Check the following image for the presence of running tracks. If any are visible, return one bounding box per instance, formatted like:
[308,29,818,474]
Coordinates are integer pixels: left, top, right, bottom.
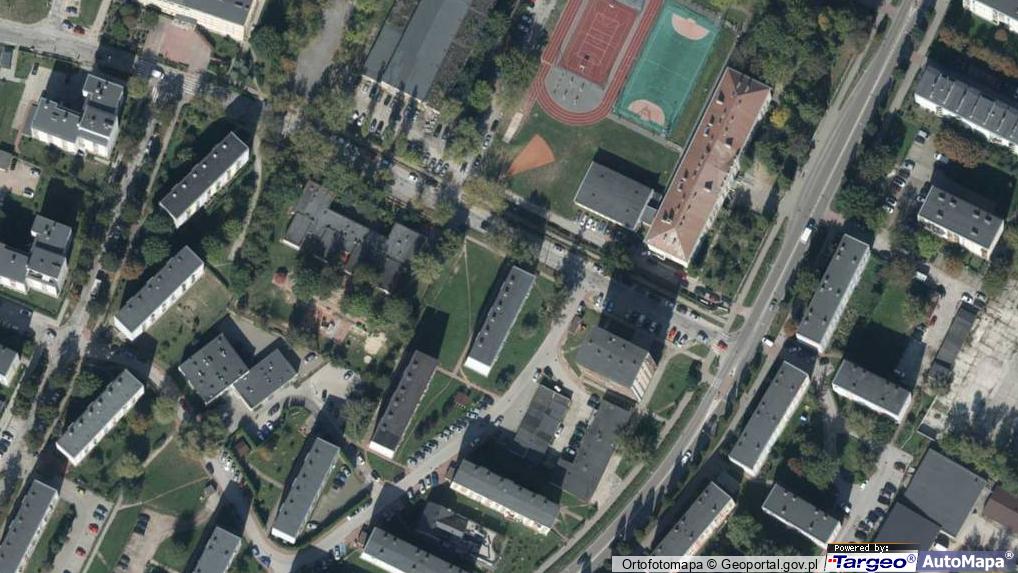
[519,0,664,125]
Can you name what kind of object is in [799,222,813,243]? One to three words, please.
vehicle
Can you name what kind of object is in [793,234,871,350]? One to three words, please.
building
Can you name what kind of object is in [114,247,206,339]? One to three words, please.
building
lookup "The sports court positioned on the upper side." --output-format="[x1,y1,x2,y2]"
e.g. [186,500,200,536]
[561,0,642,85]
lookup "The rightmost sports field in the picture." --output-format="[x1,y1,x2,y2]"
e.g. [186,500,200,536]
[615,4,719,134]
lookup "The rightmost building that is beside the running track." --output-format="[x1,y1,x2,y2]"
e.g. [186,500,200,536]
[643,68,771,268]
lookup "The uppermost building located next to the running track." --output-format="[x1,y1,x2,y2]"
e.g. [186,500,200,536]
[364,0,490,108]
